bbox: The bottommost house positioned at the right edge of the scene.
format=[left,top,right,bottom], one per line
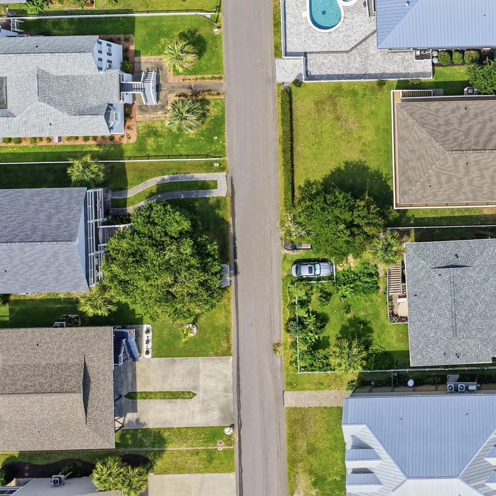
[342,388,496,496]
